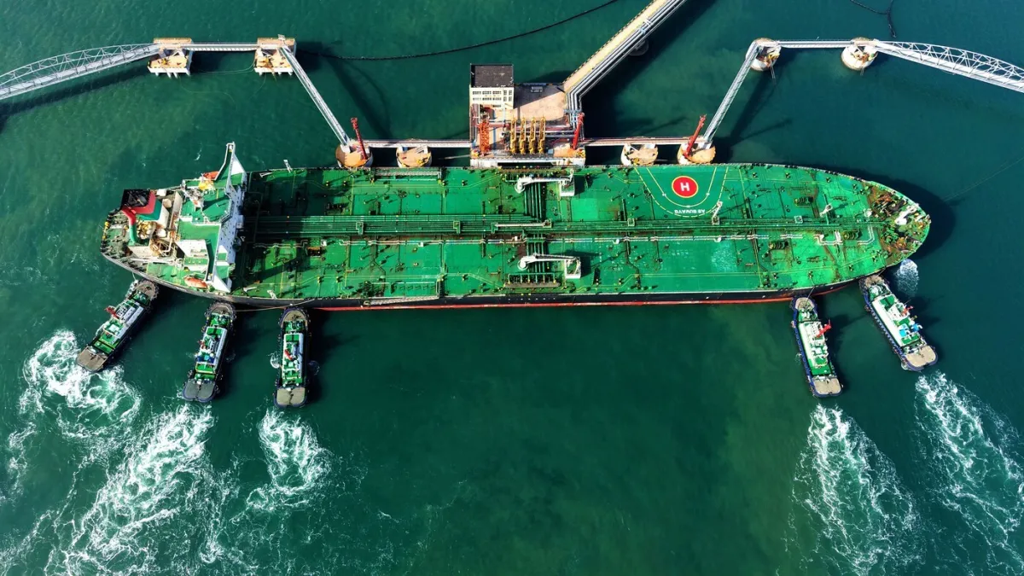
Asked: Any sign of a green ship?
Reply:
Yes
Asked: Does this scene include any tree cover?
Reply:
No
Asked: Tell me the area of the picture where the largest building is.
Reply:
top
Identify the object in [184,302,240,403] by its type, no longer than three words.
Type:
boat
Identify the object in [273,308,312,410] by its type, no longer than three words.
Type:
boat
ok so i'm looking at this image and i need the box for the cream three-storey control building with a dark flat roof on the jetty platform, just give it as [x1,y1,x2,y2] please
[469,62,514,115]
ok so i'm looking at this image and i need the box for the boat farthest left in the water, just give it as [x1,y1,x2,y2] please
[80,279,164,376]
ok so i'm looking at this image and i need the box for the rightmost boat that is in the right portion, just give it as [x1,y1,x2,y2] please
[859,274,934,373]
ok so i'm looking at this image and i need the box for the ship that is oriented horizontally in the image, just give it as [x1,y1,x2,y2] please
[98,141,934,311]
